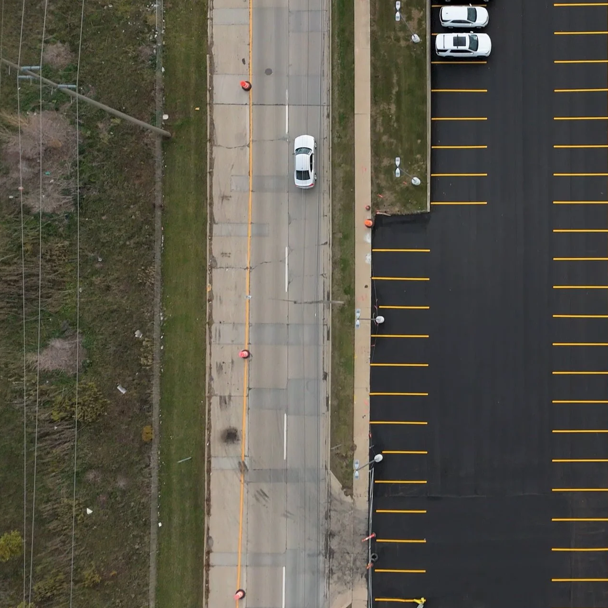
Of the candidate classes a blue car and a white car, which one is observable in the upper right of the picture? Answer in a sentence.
You can see a white car in the upper right of the picture.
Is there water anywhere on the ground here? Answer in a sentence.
No, the picture contains no water.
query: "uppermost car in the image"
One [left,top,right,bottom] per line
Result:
[439,2,489,29]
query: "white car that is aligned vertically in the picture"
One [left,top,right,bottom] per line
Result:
[294,136,317,189]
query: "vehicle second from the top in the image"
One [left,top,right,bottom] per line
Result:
[436,30,492,57]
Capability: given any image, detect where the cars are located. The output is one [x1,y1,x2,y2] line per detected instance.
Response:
[436,30,492,57]
[294,136,317,189]
[439,2,489,29]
